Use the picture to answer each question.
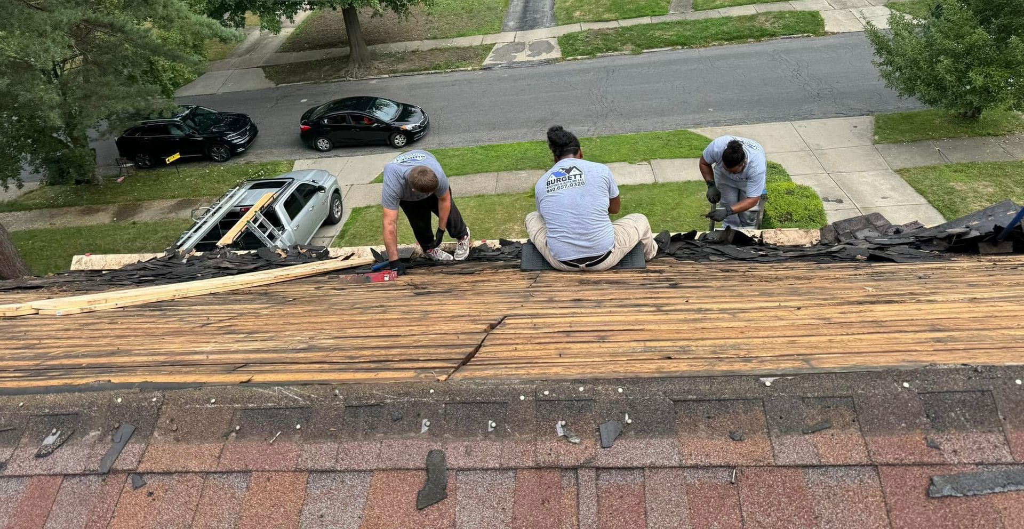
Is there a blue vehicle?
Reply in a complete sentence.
No, I find no blue vehicle anywhere in the image.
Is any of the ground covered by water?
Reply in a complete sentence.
No, there's no water in this view.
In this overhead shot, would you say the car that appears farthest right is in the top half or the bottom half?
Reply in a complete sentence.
You can find the car that appears farthest right in the top half.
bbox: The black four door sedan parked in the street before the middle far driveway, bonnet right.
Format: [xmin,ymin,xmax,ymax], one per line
[295,94,429,152]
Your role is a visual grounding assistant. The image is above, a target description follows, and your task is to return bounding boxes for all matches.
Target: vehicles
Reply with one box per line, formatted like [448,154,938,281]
[295,94,429,152]
[105,98,257,169]
[203,170,347,249]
